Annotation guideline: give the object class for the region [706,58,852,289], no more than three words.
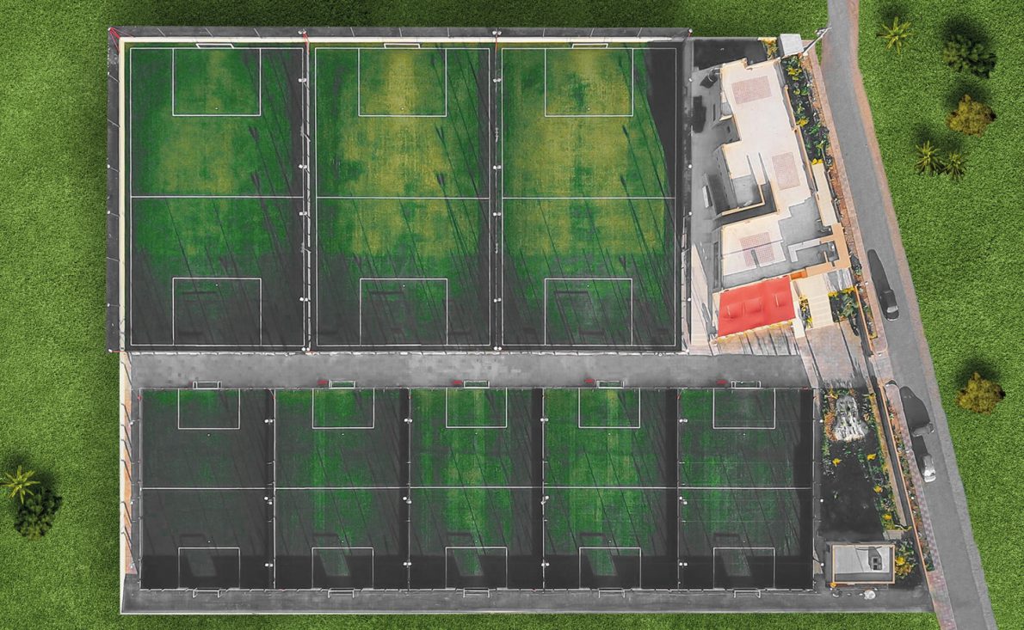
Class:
building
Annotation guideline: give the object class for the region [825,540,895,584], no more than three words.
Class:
shed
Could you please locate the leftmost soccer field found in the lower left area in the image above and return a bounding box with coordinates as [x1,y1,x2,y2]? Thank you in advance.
[141,389,274,590]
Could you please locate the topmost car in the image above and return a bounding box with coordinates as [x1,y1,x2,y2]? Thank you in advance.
[879,287,900,321]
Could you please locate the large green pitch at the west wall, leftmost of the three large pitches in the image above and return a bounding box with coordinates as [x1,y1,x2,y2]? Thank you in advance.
[126,43,309,348]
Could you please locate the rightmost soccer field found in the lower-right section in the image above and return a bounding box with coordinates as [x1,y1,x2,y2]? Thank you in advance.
[679,389,815,590]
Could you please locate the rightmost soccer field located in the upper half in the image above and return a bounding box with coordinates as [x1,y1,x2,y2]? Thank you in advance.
[497,43,683,348]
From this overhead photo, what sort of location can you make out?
sports ground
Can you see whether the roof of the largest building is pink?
No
